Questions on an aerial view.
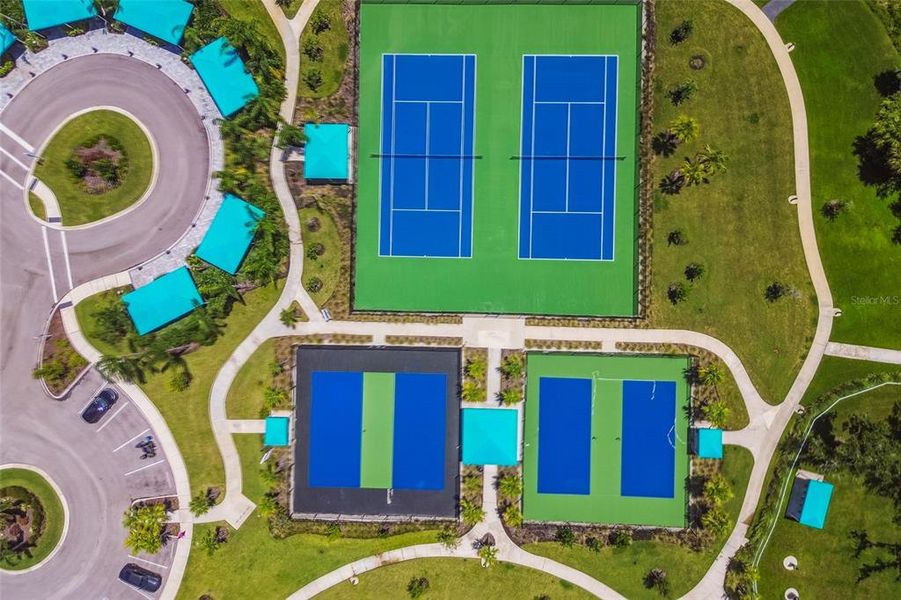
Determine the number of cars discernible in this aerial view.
two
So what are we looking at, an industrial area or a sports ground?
sports ground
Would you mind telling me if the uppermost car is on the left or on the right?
left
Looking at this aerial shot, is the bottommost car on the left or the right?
left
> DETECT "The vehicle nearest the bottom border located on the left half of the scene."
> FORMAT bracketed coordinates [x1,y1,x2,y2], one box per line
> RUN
[121,562,164,591]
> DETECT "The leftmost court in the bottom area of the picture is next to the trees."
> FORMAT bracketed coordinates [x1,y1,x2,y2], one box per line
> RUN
[289,343,464,521]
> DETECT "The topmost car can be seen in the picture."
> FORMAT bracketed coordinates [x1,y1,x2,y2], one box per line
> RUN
[83,388,121,423]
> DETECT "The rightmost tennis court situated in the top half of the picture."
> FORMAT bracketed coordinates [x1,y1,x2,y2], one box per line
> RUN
[495,0,641,318]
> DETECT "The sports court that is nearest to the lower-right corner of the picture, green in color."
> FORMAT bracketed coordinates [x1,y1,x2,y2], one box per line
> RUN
[519,349,692,532]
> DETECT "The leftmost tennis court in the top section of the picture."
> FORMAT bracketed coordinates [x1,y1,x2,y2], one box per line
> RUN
[355,0,500,314]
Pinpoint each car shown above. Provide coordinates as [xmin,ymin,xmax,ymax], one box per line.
[83,388,121,423]
[121,562,164,591]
